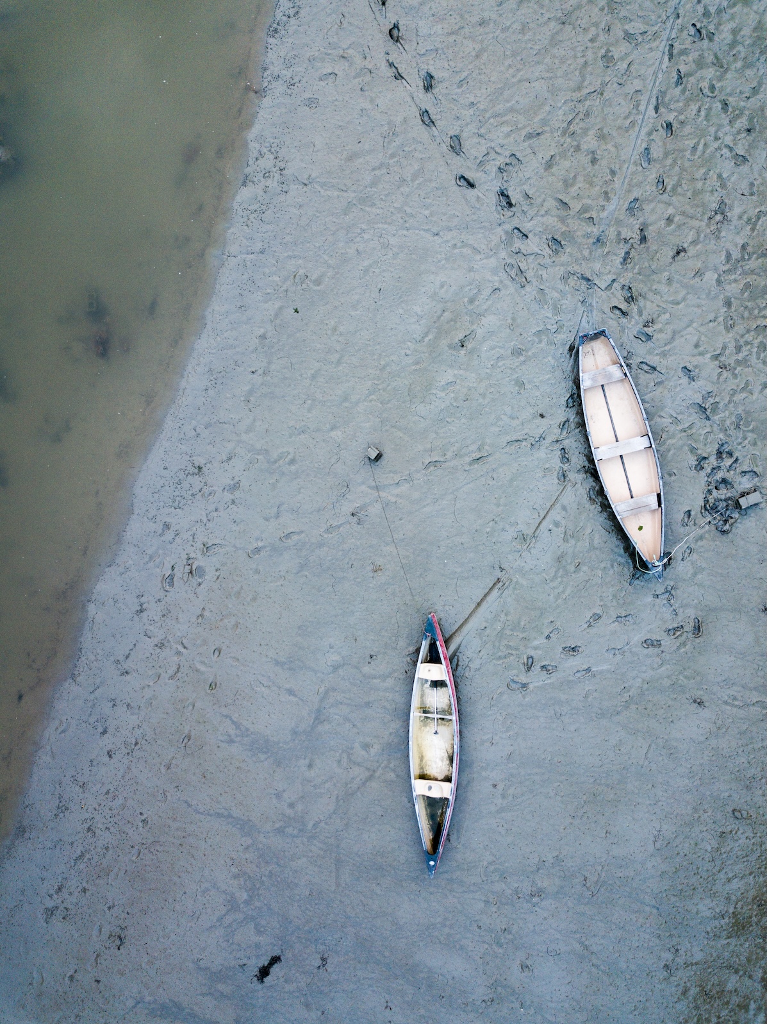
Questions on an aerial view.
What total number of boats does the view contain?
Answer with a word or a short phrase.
2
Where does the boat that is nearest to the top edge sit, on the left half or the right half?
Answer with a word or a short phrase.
right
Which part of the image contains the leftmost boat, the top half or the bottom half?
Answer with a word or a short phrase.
bottom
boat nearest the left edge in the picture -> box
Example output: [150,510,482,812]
[408,615,456,882]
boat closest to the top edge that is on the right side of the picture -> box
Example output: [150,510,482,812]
[579,326,667,583]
